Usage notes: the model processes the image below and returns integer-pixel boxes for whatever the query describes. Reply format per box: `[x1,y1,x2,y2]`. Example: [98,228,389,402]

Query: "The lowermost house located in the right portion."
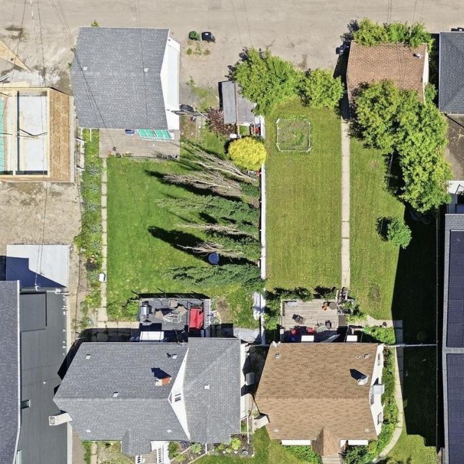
[247,336,391,464]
